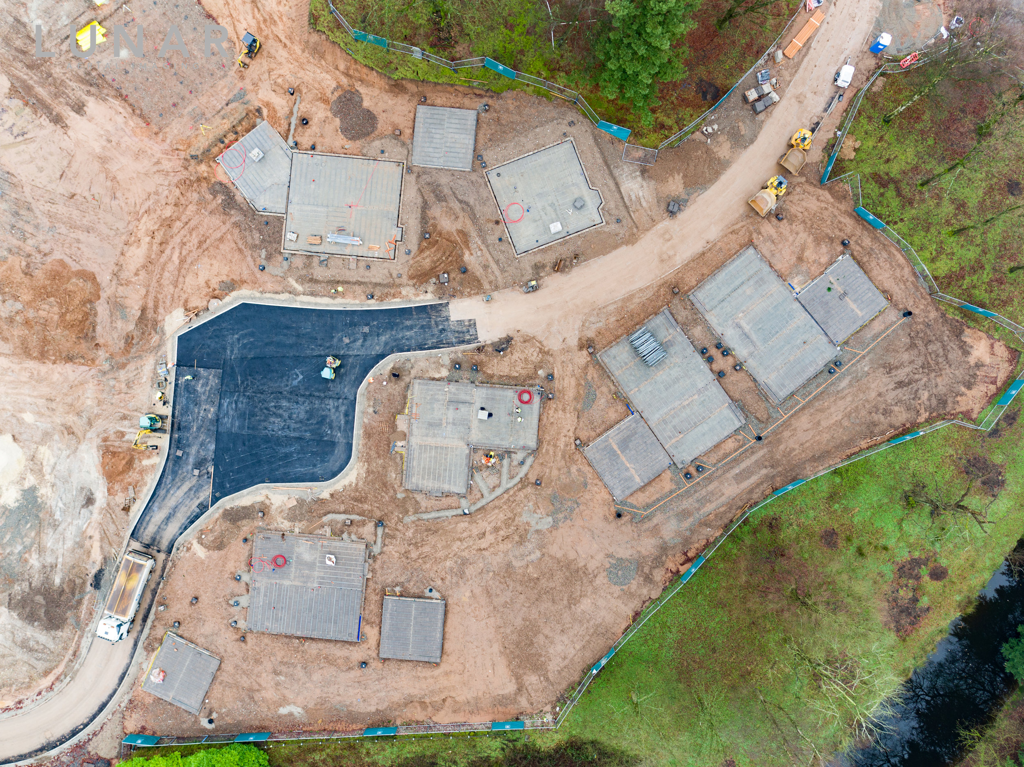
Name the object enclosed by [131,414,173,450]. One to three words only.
work vehicle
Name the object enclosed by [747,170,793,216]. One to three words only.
truck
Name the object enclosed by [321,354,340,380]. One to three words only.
work vehicle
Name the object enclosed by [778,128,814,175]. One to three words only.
truck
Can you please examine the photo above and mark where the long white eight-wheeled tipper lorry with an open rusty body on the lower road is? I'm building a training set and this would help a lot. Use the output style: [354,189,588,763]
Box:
[94,545,158,644]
